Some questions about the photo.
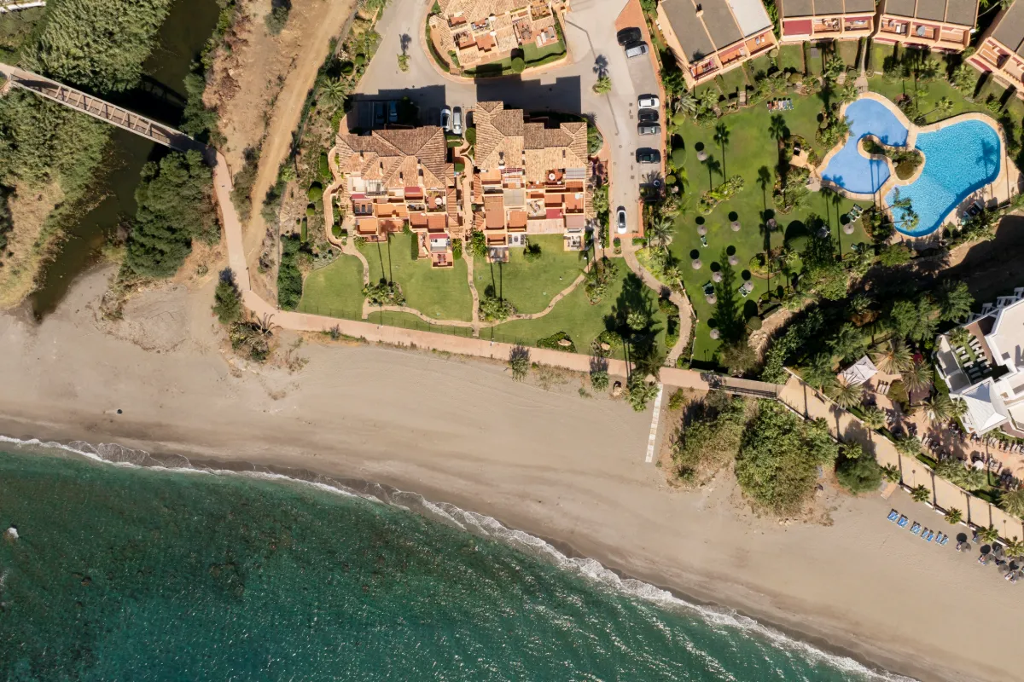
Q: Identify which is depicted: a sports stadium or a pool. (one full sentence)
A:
The one in the frame is a pool.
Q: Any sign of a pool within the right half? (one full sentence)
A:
Yes, within the right half there is a pool.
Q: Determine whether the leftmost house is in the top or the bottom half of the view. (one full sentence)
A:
The leftmost house sits in the top half of the picture.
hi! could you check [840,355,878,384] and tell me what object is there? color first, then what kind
white gazebo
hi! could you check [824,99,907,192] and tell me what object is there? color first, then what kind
blue swimming pool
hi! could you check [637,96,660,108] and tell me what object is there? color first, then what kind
white vehicle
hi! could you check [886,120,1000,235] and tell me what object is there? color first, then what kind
blue swimming pool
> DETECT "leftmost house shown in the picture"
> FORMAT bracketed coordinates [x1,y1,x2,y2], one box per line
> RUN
[335,124,463,267]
